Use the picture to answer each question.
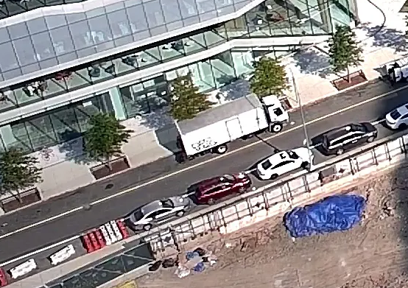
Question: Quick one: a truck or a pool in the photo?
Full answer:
Visible in the photo is a truck.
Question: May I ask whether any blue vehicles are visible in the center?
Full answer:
No, the scene shows no blue vehicle in the center.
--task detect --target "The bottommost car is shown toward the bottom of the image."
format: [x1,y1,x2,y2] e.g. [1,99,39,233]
[127,190,191,226]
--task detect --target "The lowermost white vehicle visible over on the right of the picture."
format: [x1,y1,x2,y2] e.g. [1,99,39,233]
[254,146,314,178]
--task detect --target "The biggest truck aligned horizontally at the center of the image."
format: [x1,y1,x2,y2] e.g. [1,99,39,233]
[177,87,300,159]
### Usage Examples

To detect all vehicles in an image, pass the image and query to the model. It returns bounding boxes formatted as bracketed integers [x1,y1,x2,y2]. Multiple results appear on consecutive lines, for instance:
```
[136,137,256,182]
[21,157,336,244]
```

[189,166,253,203]
[127,190,191,226]
[386,56,408,84]
[254,146,314,178]
[177,87,300,159]
[319,119,379,153]
[386,101,408,127]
